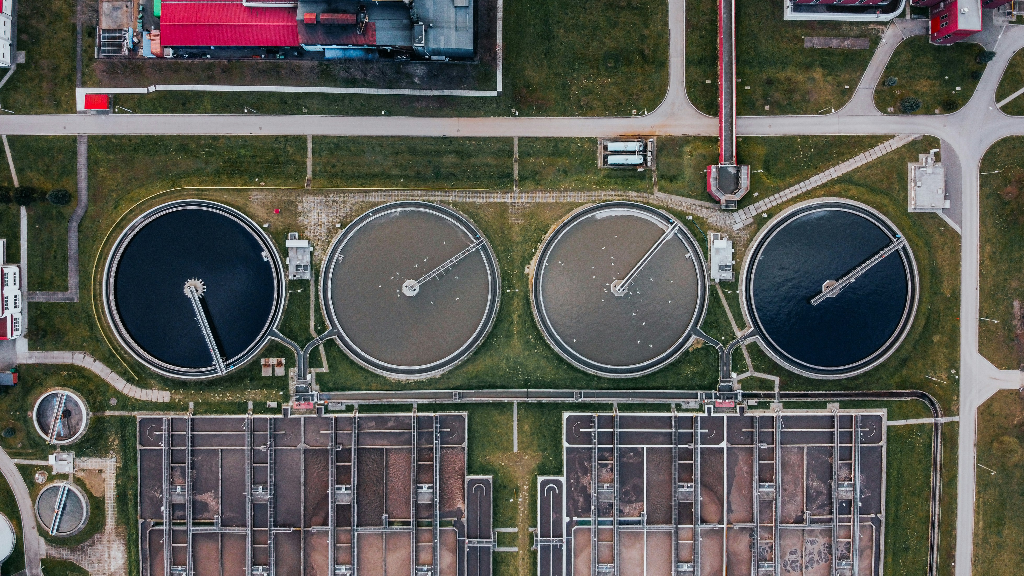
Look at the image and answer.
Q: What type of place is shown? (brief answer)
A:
industrial area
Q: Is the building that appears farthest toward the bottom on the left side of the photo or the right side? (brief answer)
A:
left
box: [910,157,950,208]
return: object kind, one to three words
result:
building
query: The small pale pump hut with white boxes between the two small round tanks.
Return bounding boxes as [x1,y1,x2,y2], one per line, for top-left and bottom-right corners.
[49,450,79,474]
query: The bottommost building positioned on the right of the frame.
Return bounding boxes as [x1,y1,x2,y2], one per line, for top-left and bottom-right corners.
[708,233,735,282]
